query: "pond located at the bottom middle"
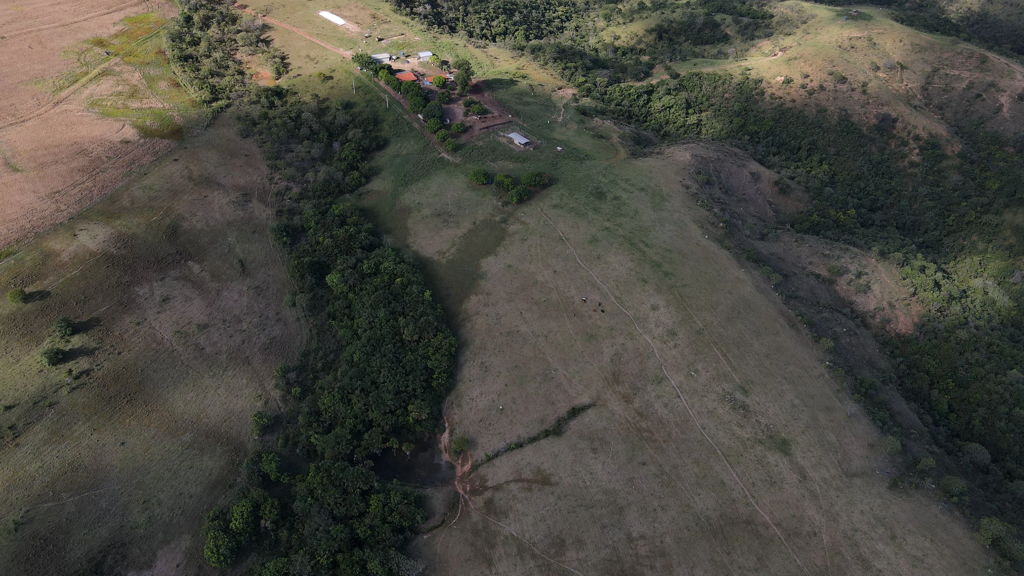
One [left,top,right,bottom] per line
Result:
[373,441,455,488]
